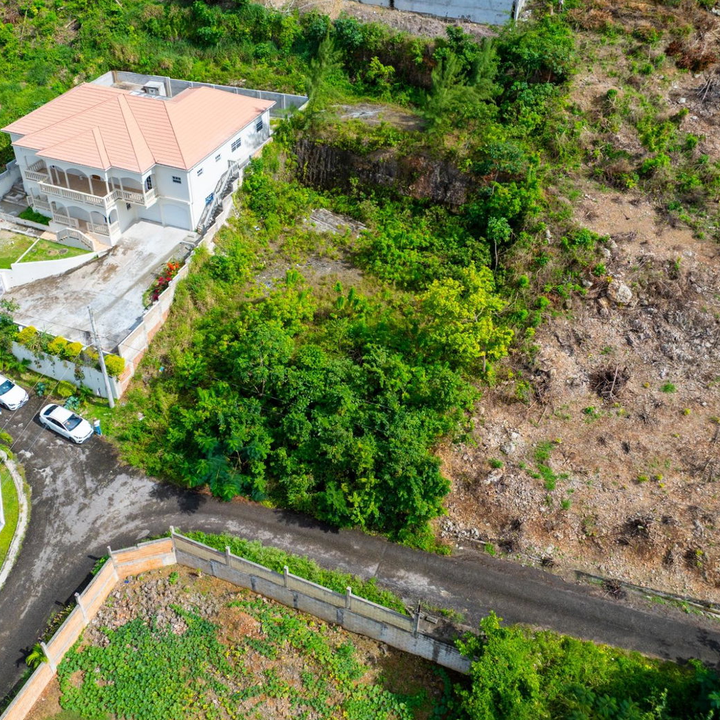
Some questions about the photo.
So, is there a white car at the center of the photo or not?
No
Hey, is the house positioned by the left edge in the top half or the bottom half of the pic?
top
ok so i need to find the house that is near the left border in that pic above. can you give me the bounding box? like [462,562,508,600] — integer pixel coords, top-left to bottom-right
[0,83,277,243]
